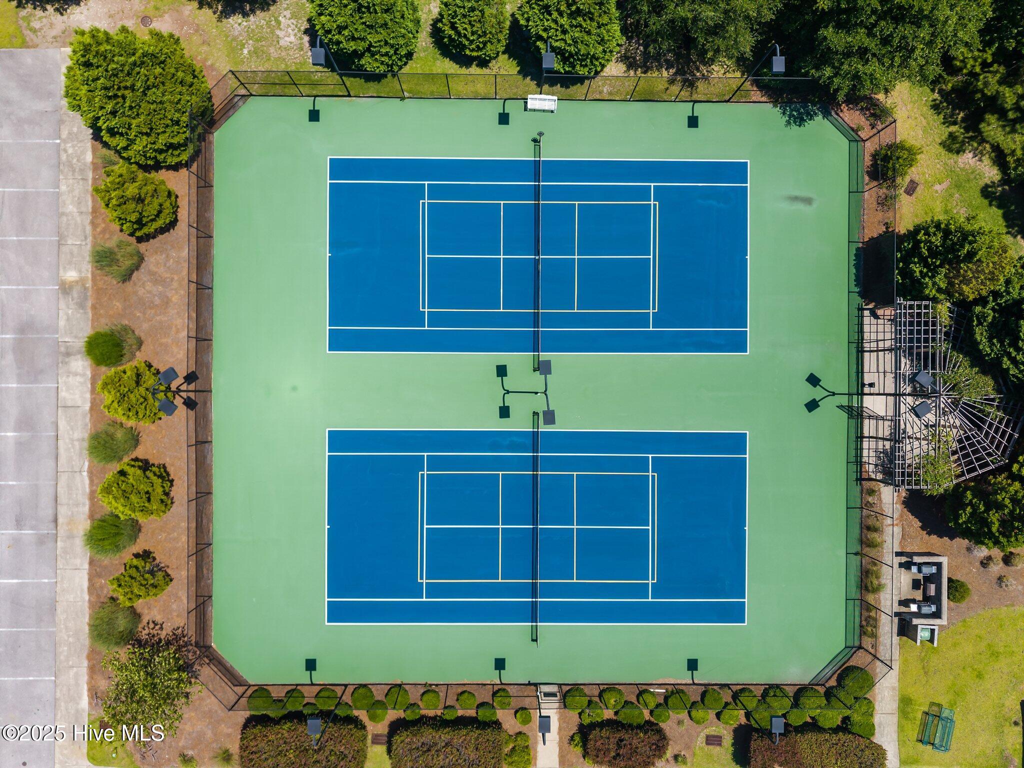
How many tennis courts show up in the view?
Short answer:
two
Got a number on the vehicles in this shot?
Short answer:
none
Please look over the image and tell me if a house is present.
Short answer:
No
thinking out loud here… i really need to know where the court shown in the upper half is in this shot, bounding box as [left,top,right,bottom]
[327,157,749,354]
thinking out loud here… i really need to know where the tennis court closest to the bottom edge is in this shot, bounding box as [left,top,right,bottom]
[325,429,749,625]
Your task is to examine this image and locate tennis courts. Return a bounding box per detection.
[327,157,749,354]
[325,429,749,625]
